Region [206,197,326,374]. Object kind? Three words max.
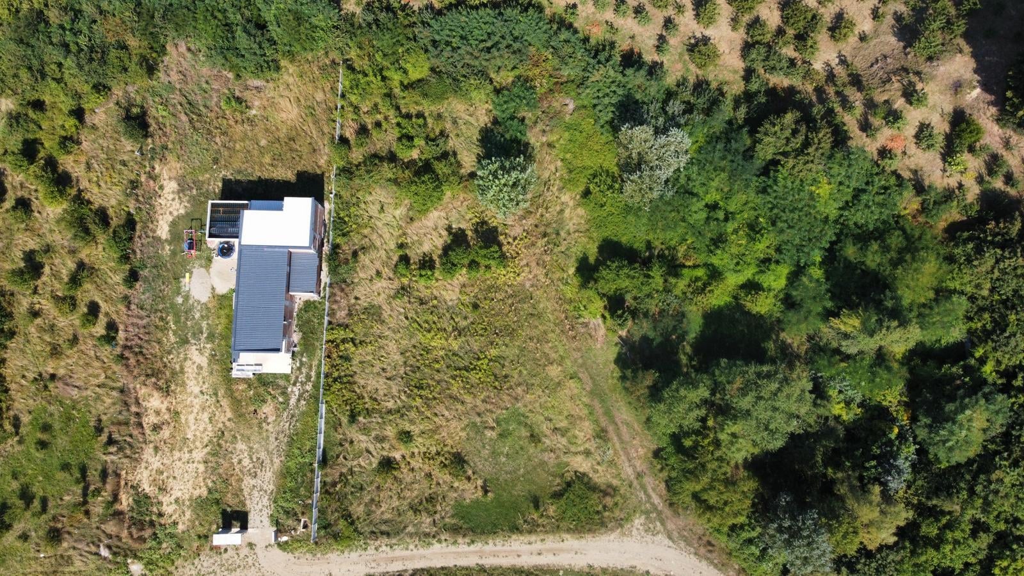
house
